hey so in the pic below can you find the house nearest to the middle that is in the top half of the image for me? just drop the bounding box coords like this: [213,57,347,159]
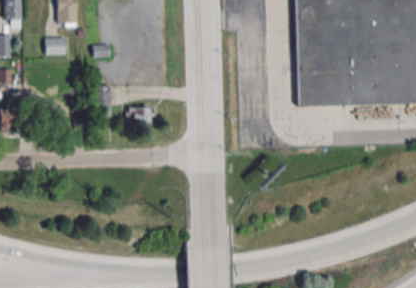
[126,106,154,124]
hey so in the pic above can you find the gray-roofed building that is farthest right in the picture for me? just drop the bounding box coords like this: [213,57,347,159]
[294,0,416,106]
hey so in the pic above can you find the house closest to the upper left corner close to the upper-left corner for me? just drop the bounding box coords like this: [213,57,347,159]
[4,0,23,20]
